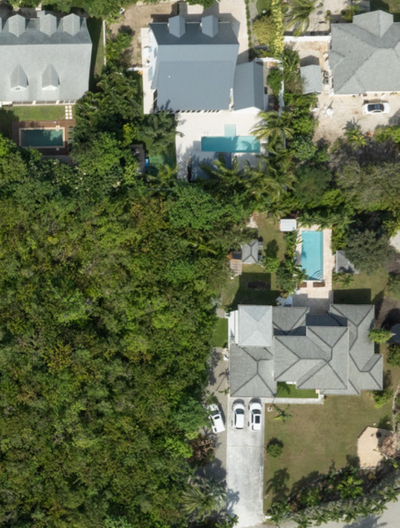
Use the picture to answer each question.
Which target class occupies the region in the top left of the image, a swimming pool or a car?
swimming pool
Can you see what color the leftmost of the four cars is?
white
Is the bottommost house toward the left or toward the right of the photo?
right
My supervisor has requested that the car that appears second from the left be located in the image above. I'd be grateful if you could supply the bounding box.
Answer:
[230,402,246,428]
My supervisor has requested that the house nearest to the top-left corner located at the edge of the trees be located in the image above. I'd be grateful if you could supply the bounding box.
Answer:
[0,11,93,111]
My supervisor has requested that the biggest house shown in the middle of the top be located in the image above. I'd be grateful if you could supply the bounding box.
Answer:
[146,15,264,118]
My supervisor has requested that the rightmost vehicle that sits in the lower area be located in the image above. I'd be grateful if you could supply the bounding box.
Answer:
[247,402,263,429]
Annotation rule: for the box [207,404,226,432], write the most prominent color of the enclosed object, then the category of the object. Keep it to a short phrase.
white car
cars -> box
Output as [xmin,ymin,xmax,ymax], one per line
[247,402,263,429]
[207,404,226,432]
[230,402,246,428]
[361,102,391,116]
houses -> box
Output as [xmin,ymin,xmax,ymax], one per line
[321,9,400,99]
[222,305,384,397]
[146,15,264,118]
[0,11,93,111]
